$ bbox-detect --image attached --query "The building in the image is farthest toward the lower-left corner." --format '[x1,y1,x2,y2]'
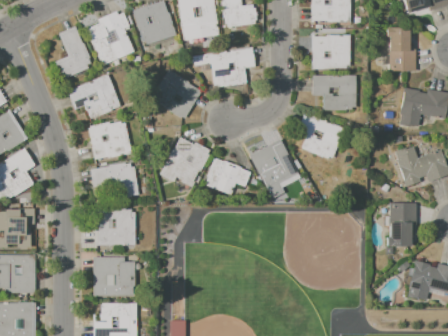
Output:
[0,302,36,336]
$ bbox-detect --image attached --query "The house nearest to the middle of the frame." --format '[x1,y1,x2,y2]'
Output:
[208,158,251,195]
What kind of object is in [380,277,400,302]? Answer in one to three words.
swimming pool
